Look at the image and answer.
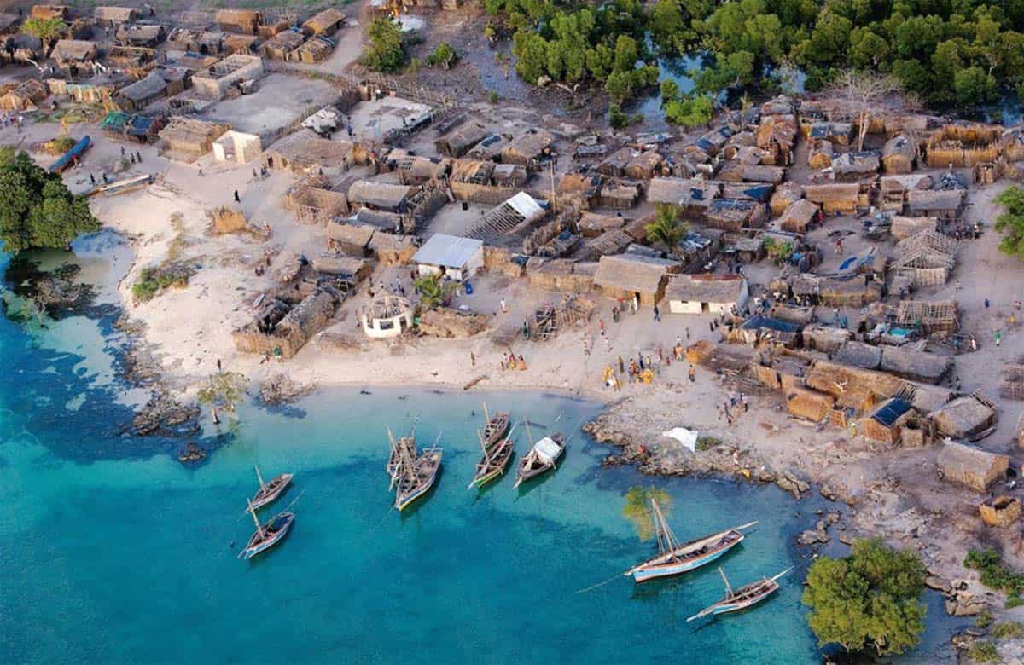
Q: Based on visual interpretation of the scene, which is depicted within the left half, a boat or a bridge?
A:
boat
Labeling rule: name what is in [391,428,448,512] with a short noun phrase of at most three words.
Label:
boat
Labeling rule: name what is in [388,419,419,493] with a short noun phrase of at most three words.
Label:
boat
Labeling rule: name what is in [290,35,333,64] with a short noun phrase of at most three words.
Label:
shed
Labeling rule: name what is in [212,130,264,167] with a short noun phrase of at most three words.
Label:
house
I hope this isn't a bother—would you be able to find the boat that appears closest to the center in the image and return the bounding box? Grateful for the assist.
[484,403,512,452]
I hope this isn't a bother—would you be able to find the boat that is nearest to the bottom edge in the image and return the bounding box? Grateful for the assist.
[687,568,792,621]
